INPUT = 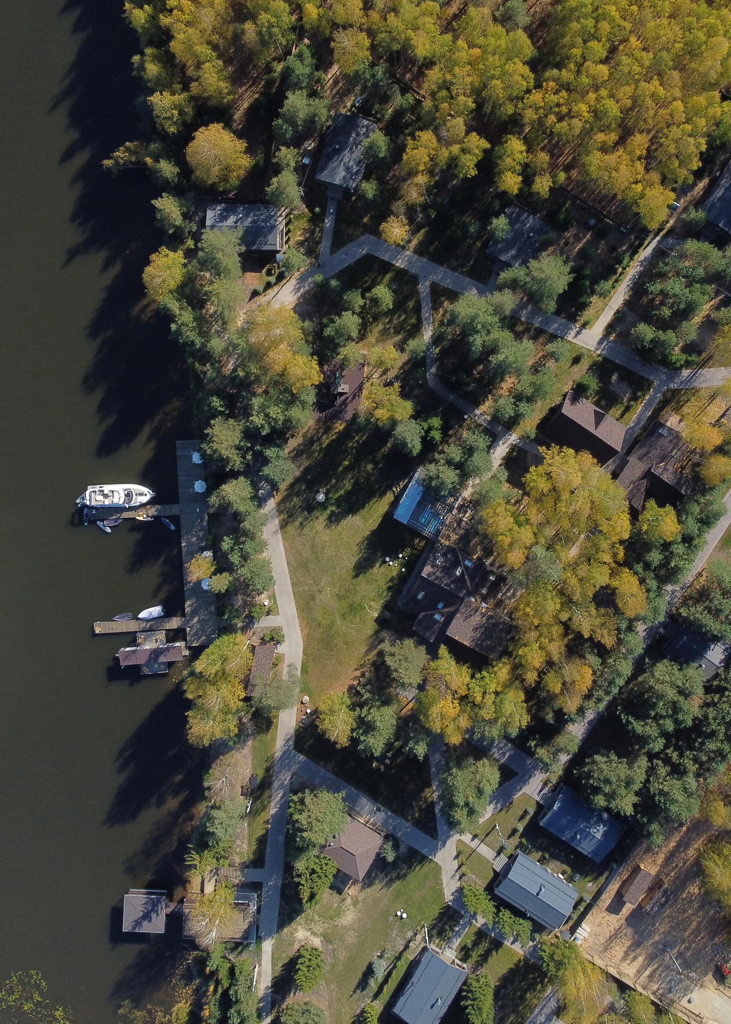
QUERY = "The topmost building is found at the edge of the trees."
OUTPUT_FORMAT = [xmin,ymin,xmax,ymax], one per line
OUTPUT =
[314,113,377,199]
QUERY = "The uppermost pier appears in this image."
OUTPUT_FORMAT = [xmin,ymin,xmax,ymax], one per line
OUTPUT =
[88,504,180,520]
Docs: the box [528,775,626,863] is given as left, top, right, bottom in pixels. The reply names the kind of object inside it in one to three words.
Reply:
building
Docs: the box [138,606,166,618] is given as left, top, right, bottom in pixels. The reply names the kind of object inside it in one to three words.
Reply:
boat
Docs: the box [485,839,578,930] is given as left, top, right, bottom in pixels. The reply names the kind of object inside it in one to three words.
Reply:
building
